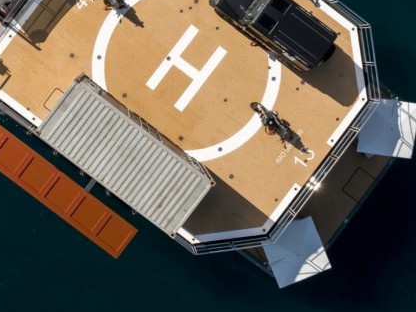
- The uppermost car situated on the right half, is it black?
Yes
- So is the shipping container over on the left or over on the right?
left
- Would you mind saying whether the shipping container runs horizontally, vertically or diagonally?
diagonally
